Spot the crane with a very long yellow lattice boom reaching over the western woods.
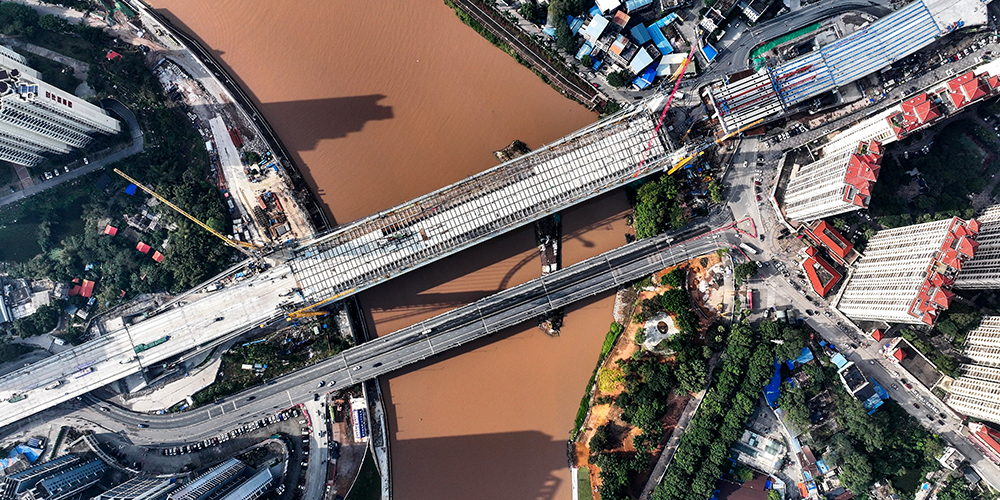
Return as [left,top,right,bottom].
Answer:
[114,169,267,257]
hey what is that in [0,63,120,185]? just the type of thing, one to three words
building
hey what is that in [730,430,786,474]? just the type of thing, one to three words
house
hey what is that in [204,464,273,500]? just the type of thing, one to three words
building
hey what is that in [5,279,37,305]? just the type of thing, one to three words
house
